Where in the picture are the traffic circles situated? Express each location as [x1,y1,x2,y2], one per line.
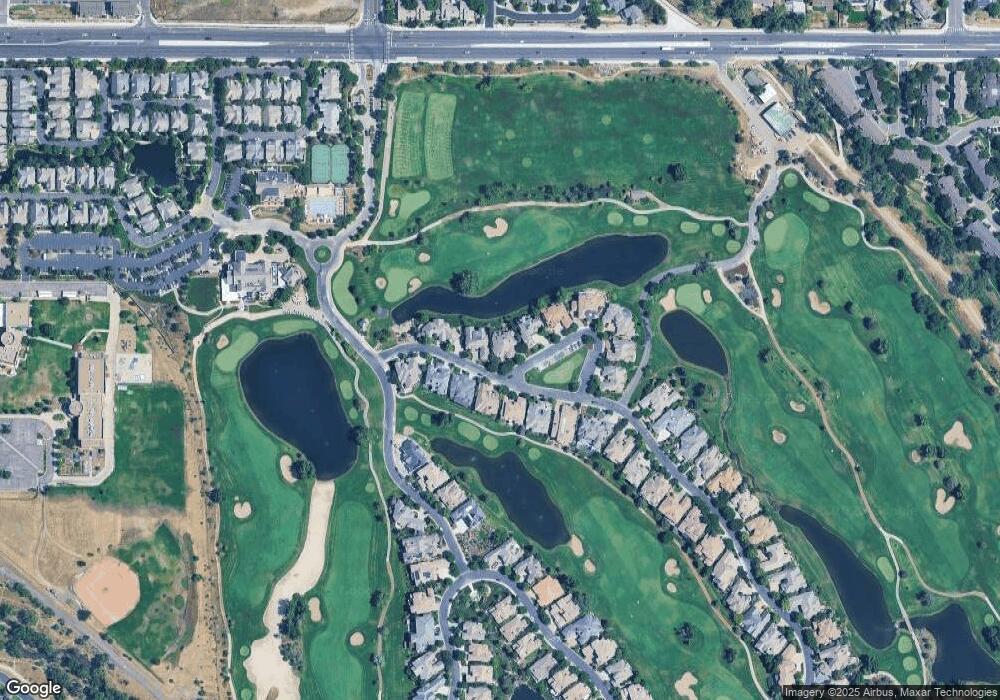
[304,235,342,273]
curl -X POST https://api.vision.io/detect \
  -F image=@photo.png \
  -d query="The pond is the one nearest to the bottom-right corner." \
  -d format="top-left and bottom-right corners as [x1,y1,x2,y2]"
[909,603,1000,685]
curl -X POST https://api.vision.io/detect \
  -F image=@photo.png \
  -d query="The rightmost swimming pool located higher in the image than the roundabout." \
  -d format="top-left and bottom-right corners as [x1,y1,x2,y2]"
[306,185,344,223]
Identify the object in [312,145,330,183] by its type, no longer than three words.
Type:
tennis court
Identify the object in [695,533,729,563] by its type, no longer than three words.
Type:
house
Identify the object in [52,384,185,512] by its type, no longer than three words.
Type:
sports field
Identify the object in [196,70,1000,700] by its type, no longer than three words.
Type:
golf course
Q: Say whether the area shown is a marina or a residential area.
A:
residential area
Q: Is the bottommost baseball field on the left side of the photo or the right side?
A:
left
